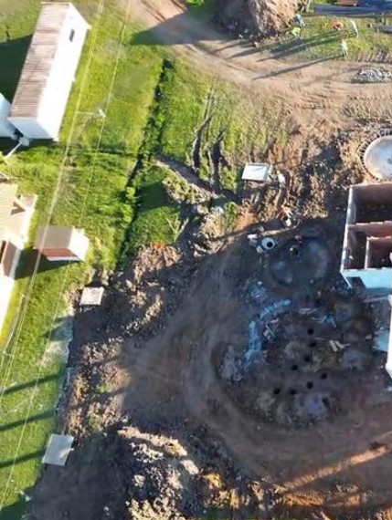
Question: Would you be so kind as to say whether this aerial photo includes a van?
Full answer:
No, I find no van anywhere in the image.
